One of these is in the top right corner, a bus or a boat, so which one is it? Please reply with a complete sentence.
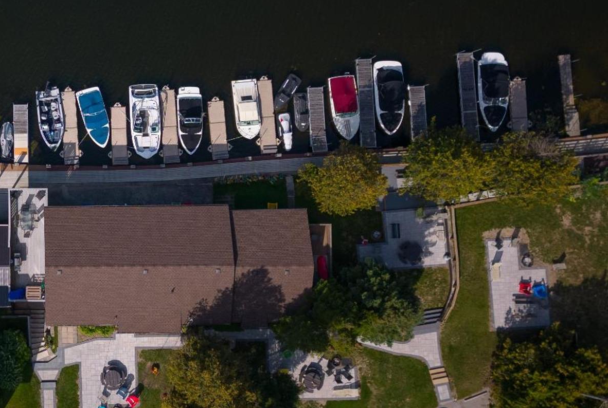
There is a boat in the top right corner.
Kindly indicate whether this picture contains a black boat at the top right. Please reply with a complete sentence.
Yes, a black boat can be seen at the top right.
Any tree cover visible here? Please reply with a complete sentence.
Yes, some tree cover is visible.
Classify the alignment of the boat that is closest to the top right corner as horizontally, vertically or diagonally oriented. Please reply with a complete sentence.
What the image shows is the boat that is closest to the top right corner lying vertically.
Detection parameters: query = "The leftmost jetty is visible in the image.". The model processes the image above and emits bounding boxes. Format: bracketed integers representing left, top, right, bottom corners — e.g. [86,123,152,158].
[12,103,29,162]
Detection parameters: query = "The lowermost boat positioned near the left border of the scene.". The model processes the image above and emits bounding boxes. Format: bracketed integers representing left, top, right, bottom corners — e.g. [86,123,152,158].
[1,123,13,158]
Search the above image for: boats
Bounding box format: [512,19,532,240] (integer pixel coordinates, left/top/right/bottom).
[278,114,292,151]
[329,70,361,140]
[1,123,13,158]
[294,93,309,132]
[232,78,260,140]
[75,87,110,148]
[373,60,404,135]
[129,83,161,159]
[35,84,64,154]
[275,72,298,110]
[172,87,203,155]
[477,52,509,133]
